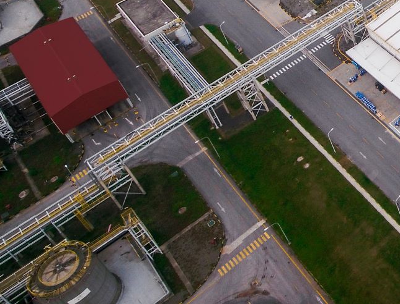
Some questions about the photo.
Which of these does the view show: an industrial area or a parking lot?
industrial area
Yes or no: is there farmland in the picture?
No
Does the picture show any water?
No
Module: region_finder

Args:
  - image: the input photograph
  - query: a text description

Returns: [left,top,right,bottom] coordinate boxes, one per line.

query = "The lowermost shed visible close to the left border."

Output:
[12,14,141,135]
